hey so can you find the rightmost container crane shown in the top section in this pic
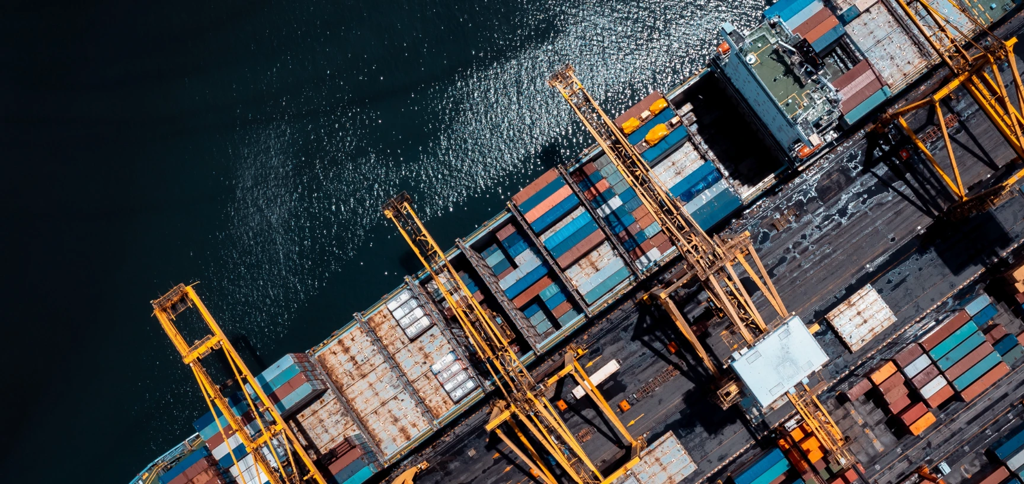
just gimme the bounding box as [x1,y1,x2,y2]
[867,0,1024,225]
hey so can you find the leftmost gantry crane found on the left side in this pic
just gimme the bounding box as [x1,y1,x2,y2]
[147,278,333,484]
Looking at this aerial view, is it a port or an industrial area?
port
